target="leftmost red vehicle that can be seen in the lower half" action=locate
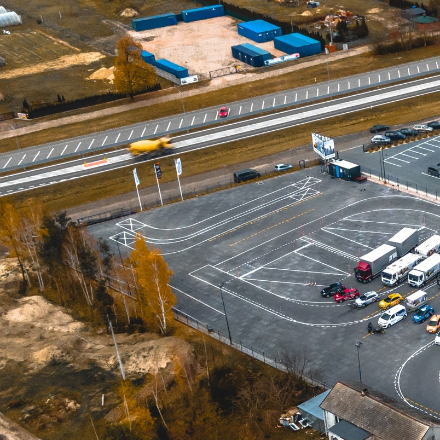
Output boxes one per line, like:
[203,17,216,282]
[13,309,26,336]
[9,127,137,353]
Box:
[334,285,361,301]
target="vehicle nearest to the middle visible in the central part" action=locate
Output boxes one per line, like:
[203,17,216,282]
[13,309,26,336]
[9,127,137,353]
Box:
[232,167,259,181]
